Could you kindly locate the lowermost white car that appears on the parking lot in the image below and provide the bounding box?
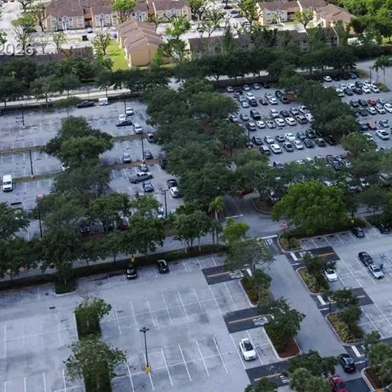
[239,337,257,361]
